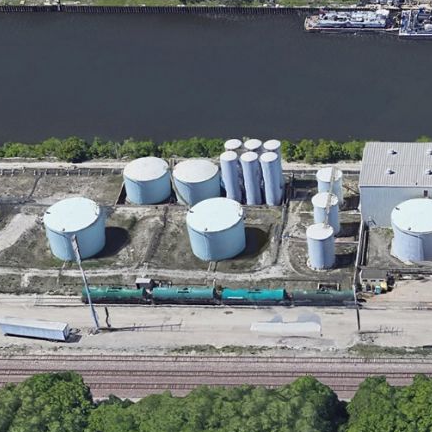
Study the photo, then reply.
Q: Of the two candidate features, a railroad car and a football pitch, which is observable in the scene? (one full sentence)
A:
Visible in the photo is a railroad car.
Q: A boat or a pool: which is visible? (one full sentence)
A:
The one in the frame is a boat.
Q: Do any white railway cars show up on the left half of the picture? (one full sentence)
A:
No, no white railway car is visible on the left half of the picture.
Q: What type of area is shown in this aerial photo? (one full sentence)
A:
The area seen from above is an industrial area.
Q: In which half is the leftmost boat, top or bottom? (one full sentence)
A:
The leftmost boat is in the top half of the image.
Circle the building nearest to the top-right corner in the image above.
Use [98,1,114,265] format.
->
[358,142,432,230]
